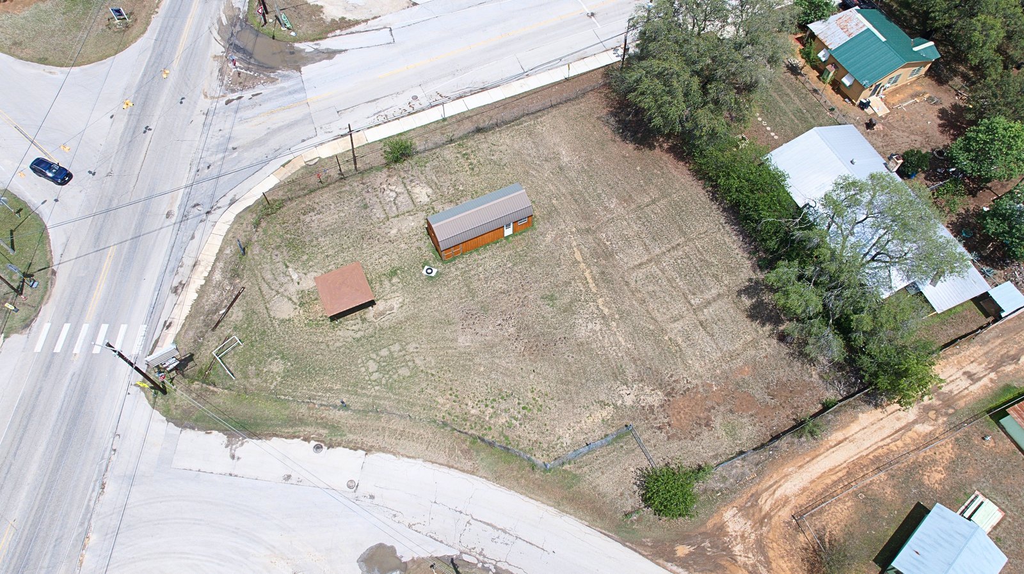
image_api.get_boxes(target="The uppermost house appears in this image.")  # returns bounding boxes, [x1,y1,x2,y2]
[804,3,938,101]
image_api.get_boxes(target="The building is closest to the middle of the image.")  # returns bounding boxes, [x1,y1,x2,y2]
[425,182,535,260]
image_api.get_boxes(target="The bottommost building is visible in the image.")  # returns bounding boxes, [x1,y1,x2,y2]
[876,503,1008,574]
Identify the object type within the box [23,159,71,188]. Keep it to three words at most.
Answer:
car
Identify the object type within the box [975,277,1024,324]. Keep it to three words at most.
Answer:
shed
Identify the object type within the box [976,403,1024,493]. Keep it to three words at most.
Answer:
shed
